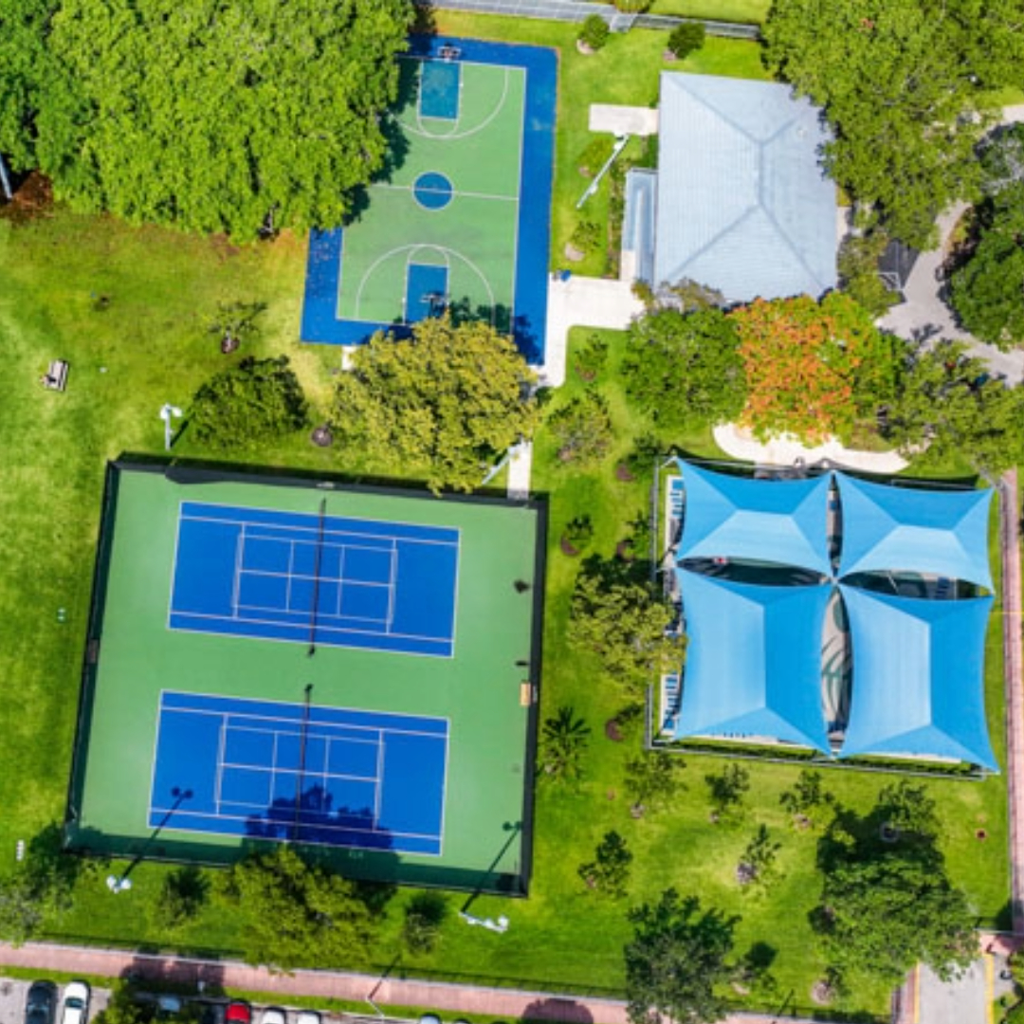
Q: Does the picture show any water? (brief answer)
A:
No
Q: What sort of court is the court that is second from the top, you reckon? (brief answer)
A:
tennis court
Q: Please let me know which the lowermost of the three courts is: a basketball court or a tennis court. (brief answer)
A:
tennis court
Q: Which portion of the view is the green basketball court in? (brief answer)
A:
top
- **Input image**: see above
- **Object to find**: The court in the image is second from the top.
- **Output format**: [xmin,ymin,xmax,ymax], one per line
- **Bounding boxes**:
[167,501,460,657]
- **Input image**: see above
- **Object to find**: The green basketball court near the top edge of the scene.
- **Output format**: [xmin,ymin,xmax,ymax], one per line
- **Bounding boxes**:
[301,25,558,365]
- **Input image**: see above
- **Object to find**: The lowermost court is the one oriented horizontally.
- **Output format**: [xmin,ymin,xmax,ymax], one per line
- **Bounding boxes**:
[148,690,449,855]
